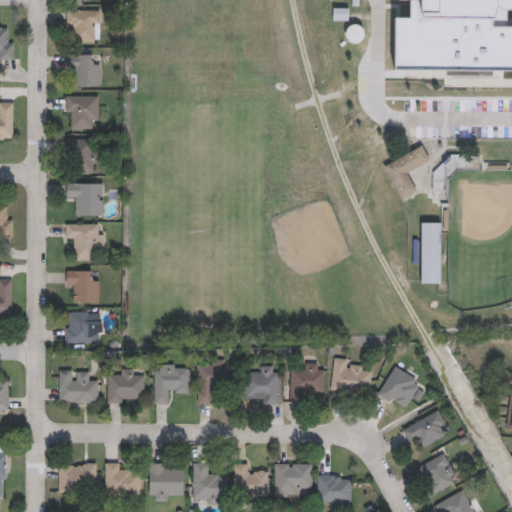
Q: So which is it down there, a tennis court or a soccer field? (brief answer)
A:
soccer field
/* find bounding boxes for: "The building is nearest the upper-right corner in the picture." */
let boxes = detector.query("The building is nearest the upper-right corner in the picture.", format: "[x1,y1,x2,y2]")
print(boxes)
[394,0,512,69]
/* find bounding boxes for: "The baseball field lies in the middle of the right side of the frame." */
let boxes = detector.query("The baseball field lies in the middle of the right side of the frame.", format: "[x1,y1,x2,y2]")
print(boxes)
[448,170,512,311]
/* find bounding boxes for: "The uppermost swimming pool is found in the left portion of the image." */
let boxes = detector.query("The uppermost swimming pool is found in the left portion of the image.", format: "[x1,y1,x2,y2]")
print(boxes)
[104,200,118,219]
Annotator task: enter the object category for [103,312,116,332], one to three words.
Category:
swimming pool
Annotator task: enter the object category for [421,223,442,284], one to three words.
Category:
barn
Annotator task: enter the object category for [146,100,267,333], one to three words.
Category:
soccer field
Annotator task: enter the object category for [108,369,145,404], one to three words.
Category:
house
